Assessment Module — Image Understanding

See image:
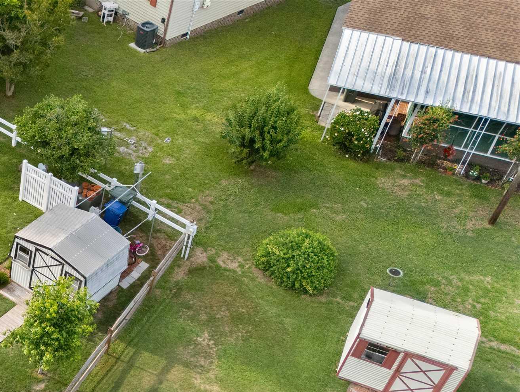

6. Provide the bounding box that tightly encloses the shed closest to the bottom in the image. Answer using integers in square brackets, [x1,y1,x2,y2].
[336,281,488,392]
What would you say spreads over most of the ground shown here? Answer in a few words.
grass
